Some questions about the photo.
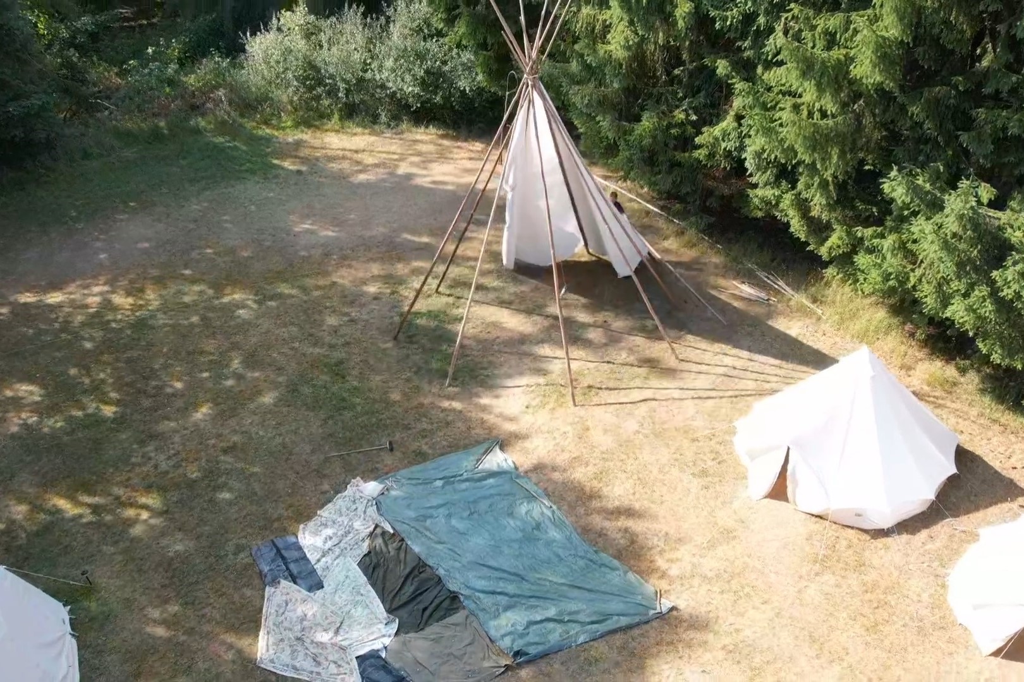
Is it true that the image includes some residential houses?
No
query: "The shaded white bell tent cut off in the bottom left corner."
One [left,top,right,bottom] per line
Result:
[0,566,79,682]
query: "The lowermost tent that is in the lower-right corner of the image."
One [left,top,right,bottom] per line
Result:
[877,497,1024,682]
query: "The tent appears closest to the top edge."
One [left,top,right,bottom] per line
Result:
[684,344,998,570]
